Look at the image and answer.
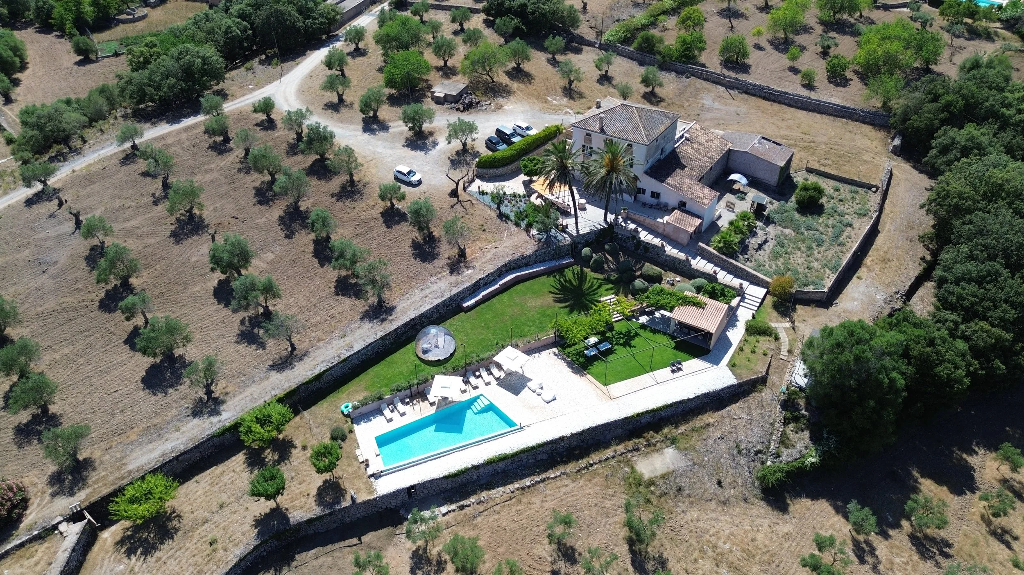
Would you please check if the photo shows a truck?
No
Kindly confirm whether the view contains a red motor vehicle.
No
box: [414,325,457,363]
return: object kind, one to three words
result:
tent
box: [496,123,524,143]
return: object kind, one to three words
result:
car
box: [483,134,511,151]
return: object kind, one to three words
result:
car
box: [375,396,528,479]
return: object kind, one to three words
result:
swimming pool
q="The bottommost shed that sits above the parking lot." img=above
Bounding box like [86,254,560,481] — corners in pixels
[430,76,464,104]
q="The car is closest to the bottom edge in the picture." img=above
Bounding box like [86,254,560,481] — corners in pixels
[391,169,422,186]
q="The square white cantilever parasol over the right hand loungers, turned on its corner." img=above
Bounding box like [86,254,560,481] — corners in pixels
[493,340,530,375]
